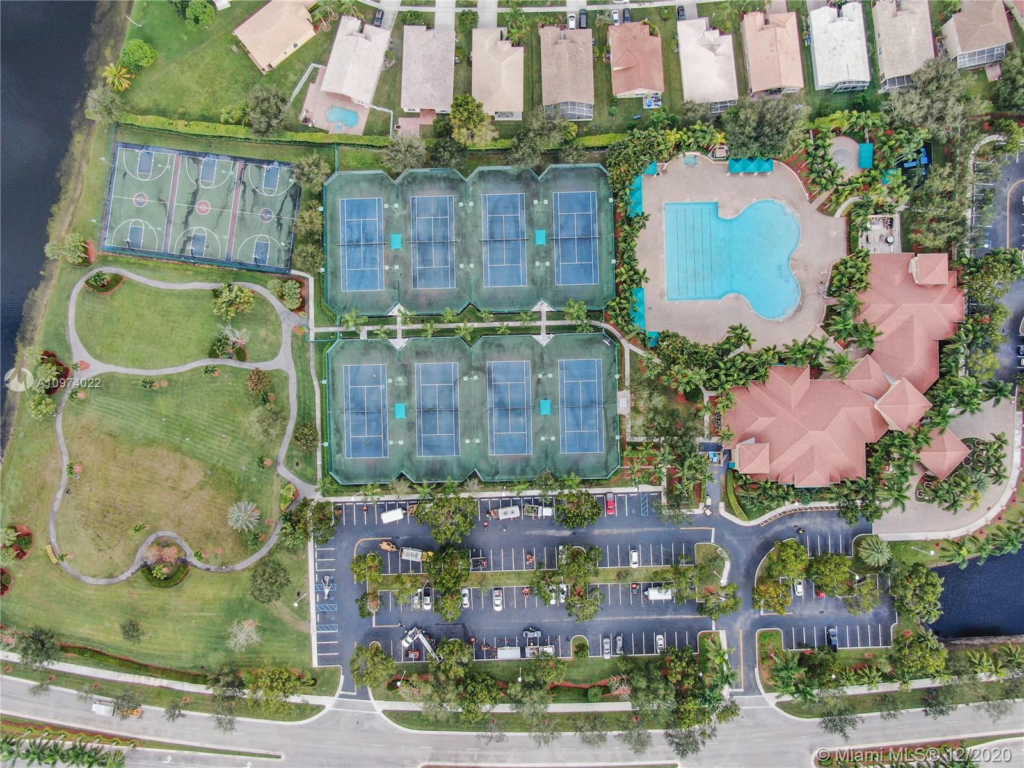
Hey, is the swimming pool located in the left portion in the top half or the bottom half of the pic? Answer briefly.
top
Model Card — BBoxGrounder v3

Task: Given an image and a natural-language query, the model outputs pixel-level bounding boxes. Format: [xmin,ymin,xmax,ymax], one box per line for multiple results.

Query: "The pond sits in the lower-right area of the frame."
[927,543,1024,636]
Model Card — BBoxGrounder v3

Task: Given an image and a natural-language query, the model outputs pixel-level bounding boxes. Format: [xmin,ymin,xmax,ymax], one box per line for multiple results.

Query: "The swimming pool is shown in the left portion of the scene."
[324,105,360,128]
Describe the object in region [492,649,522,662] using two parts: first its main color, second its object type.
white vehicle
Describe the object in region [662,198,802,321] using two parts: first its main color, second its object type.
blue swimming pool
